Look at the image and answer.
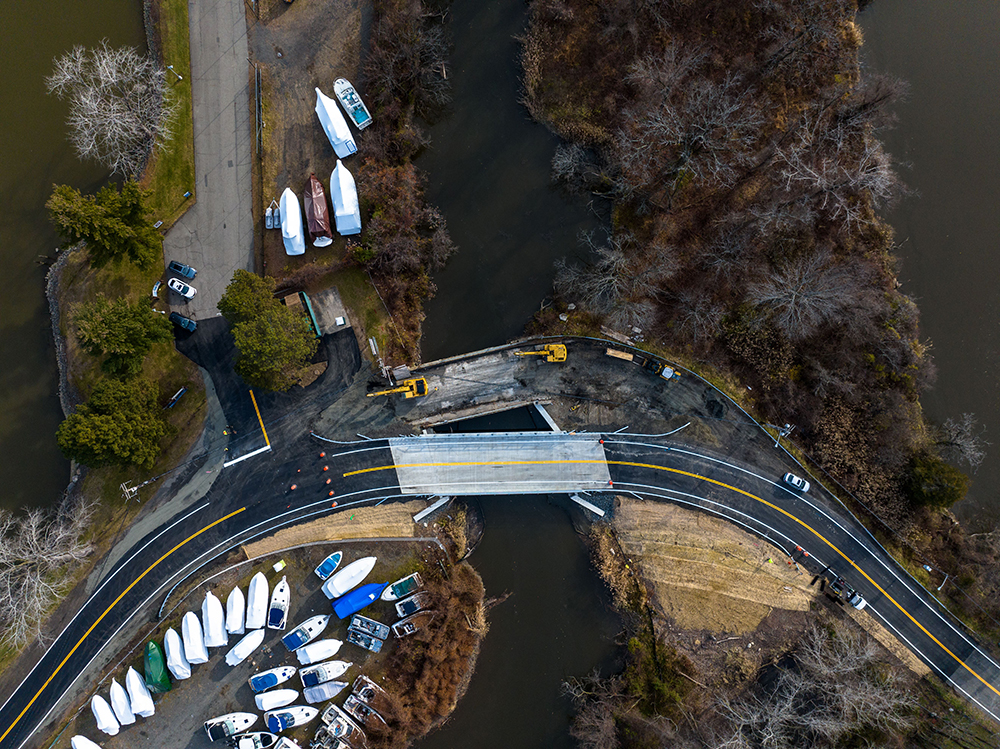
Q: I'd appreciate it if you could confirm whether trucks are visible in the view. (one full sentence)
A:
Yes, a truck can be made out from above.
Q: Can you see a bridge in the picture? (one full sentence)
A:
Yes, the photo shows a bridge.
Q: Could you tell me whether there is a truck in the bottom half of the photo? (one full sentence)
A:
Yes, a truck can be seen in the bottom half of the photo.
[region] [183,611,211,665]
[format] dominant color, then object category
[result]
white boat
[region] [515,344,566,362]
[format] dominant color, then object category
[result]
yellow work vehicle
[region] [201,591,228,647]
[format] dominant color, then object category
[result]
white boat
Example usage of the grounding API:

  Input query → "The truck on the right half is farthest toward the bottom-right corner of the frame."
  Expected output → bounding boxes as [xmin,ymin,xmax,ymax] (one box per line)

[826,576,867,611]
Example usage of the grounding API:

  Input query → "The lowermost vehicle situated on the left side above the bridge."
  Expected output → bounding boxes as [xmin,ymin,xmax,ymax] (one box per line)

[369,379,429,398]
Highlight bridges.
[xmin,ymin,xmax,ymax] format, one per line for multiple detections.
[389,401,613,521]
